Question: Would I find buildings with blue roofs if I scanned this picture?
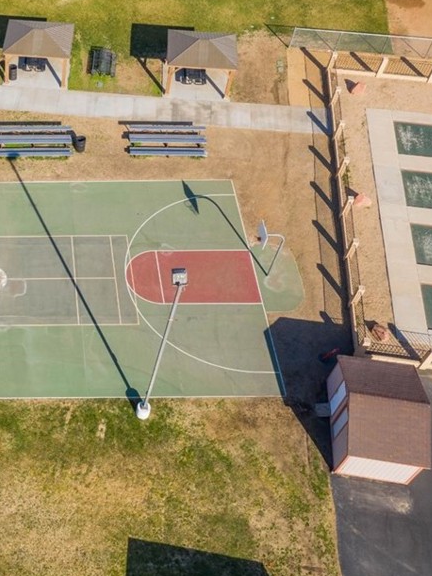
No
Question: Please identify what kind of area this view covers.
sports ground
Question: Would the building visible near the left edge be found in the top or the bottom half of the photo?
top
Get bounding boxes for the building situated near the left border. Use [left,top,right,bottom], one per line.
[1,19,72,91]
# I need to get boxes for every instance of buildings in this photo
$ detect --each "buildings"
[307,351,432,485]
[1,19,72,91]
[162,27,239,101]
